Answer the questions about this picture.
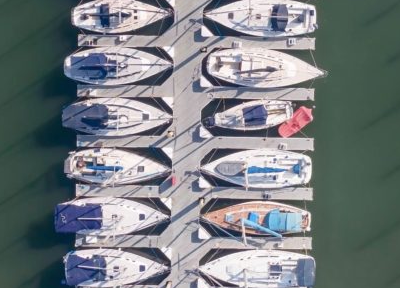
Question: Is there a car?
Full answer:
No, no car can be seen from above.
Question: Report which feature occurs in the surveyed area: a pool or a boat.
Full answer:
The image shows a boat.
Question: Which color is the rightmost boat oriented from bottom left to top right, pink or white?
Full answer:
From above, the rightmost boat oriented from bottom left to top right appears pink.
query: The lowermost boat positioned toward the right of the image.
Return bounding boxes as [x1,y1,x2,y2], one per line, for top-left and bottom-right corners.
[182,245,317,288]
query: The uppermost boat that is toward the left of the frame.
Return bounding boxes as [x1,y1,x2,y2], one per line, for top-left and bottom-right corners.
[71,0,190,40]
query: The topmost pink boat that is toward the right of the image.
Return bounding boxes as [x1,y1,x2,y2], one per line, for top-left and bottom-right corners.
[278,100,318,139]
